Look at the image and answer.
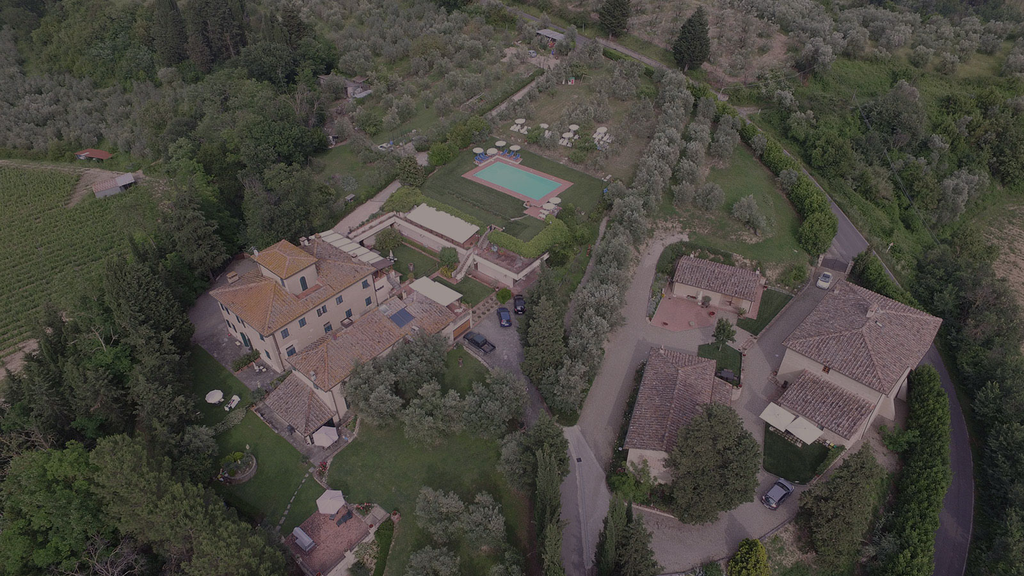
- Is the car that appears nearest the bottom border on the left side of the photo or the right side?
right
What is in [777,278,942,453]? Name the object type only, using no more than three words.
house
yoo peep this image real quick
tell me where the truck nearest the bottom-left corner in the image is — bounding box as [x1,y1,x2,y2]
[461,328,498,352]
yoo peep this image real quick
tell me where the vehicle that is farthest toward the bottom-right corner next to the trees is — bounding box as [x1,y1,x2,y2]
[760,476,798,508]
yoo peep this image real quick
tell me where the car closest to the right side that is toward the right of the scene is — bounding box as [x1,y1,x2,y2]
[817,266,835,287]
